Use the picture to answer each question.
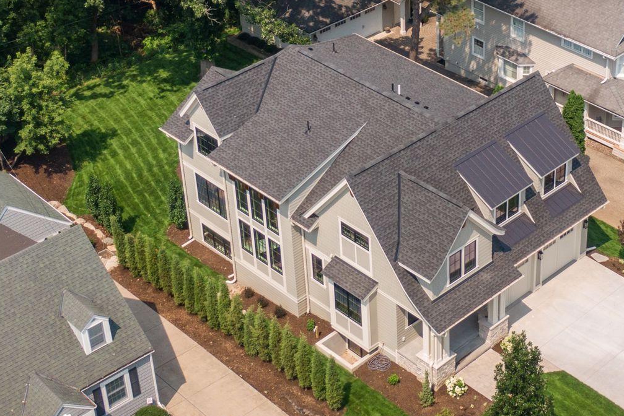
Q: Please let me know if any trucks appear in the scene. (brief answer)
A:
No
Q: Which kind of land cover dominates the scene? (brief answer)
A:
buildings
